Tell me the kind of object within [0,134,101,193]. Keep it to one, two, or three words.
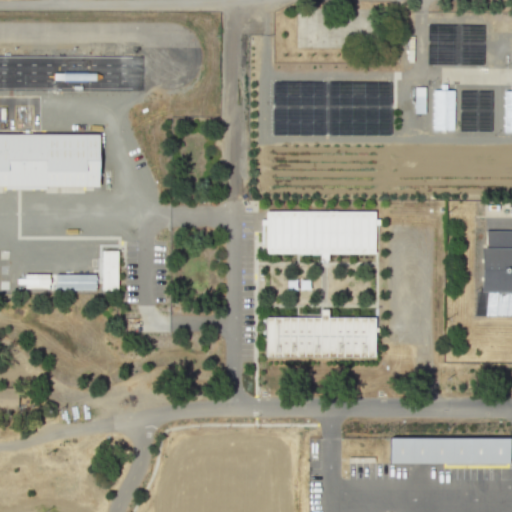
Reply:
hangar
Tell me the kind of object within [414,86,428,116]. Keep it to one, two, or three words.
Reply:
shed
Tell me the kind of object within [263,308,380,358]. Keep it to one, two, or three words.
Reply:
building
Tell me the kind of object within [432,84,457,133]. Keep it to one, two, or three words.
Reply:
greenhouse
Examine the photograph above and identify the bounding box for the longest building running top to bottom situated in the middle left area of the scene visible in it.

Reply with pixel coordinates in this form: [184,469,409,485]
[103,250,120,292]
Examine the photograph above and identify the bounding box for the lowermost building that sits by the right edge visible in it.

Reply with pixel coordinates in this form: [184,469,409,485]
[392,438,512,469]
